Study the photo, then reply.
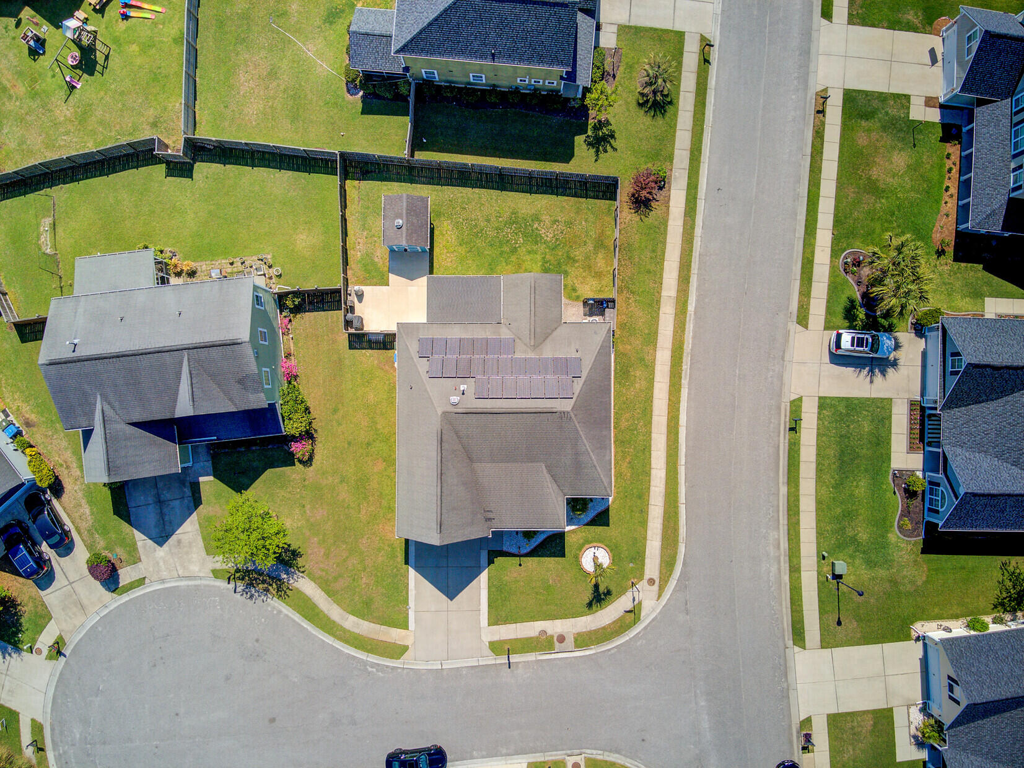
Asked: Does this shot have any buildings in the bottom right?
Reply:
Yes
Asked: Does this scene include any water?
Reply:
No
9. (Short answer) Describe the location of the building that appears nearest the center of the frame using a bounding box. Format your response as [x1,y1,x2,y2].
[396,272,613,546]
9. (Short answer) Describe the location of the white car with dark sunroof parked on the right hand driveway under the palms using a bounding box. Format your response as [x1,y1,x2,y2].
[828,329,892,359]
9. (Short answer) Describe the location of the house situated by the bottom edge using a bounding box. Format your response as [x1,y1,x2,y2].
[912,620,1024,768]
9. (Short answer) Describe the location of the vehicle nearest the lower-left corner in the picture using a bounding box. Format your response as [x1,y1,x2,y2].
[0,519,49,581]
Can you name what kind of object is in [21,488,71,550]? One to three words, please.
car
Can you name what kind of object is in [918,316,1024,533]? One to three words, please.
house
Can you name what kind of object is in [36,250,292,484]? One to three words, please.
house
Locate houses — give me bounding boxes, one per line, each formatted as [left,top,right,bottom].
[36,250,292,484]
[918,316,1024,533]
[0,417,43,510]
[396,272,613,546]
[936,5,1024,235]
[912,620,1024,768]
[350,0,599,99]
